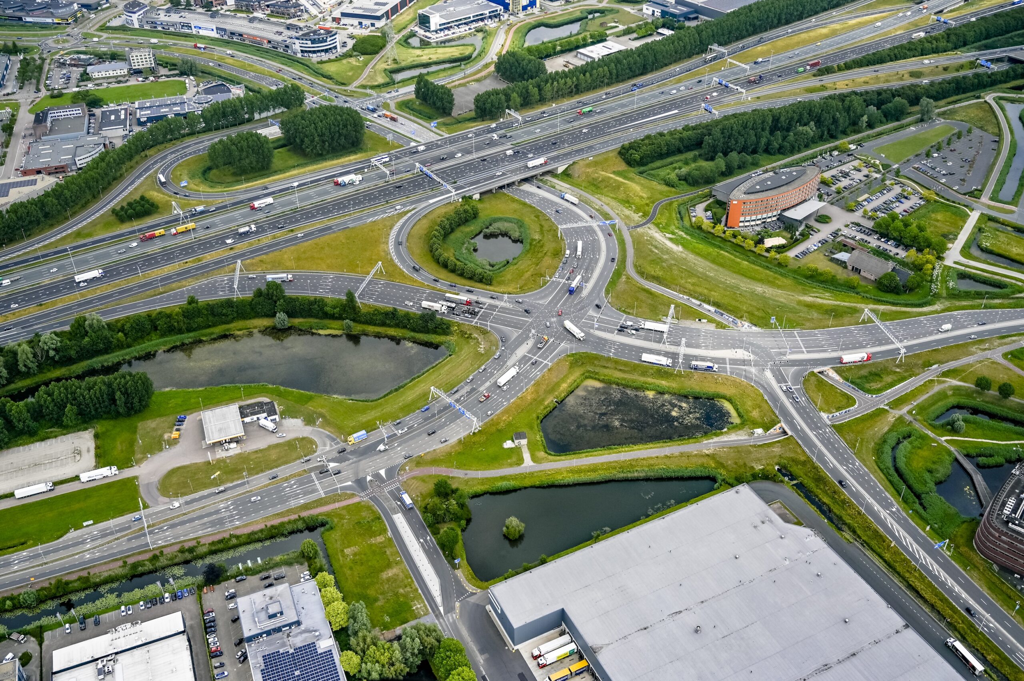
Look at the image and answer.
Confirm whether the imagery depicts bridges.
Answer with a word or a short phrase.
Yes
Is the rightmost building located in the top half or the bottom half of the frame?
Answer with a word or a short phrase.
bottom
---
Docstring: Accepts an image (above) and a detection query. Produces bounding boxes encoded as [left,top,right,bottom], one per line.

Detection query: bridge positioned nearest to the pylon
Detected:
[392,125,575,200]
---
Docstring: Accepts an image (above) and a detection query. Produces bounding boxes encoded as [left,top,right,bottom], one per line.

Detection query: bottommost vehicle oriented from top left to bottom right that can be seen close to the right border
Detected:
[943,633,989,677]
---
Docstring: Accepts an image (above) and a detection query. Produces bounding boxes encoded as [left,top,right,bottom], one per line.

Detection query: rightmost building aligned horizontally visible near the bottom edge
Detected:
[489,482,968,681]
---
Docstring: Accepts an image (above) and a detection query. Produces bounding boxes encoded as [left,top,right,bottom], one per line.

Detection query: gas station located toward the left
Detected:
[201,403,245,447]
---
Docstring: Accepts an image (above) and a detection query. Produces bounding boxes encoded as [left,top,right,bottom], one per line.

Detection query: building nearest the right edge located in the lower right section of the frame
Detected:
[973,461,1024,582]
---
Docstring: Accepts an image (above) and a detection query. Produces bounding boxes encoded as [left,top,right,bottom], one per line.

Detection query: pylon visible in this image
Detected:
[382,9,401,65]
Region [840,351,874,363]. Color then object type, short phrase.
white vehicle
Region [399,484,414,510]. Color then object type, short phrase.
white vehicle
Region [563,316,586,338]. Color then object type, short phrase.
white truck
